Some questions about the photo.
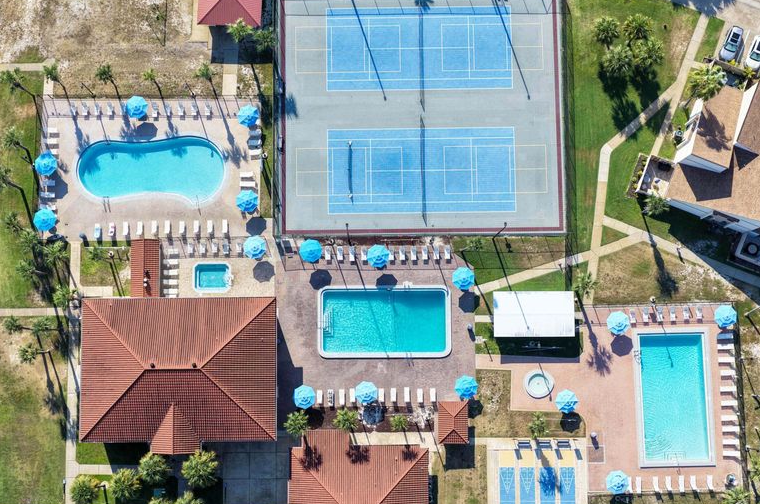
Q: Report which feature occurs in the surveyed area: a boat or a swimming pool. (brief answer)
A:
swimming pool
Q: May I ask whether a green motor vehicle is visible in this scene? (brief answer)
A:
No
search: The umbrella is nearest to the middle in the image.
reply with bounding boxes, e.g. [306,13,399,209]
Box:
[367,246,390,269]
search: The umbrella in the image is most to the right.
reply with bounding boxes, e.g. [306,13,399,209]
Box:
[713,305,736,327]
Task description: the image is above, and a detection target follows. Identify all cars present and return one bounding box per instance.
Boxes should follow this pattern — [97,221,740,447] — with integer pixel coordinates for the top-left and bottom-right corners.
[720,23,745,61]
[745,33,760,71]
